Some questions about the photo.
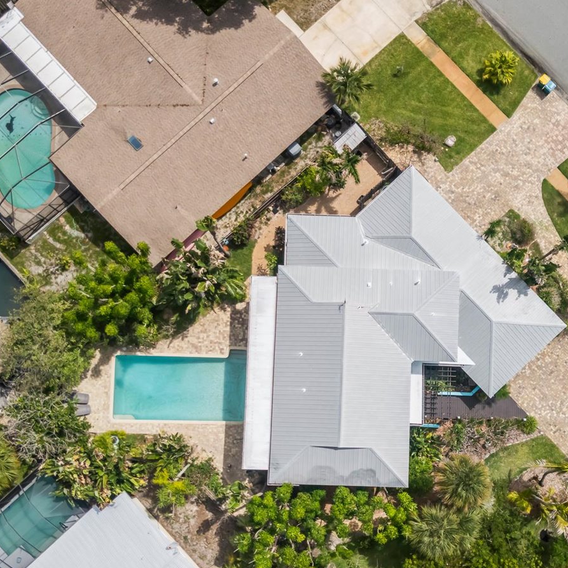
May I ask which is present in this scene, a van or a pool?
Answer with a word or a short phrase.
pool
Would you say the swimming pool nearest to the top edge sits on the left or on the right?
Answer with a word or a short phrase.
left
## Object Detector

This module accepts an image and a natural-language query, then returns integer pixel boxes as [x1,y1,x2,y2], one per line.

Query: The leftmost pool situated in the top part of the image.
[0,84,59,212]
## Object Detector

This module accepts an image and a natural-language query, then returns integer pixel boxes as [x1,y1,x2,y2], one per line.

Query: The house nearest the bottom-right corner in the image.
[242,164,567,489]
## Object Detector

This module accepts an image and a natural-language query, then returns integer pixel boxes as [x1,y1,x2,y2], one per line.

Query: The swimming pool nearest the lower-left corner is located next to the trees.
[0,470,92,559]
